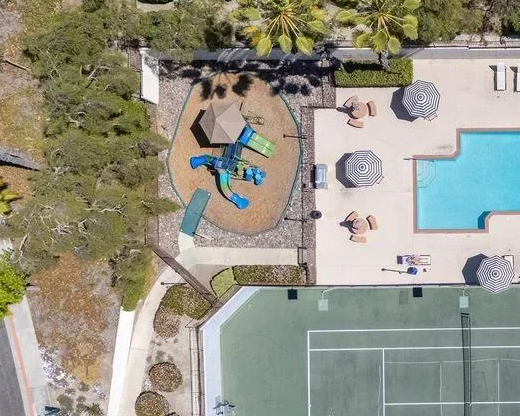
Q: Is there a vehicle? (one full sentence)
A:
No, the scene contains no vehicle.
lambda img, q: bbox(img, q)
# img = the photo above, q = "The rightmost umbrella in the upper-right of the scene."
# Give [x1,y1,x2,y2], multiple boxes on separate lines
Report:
[402,78,441,117]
